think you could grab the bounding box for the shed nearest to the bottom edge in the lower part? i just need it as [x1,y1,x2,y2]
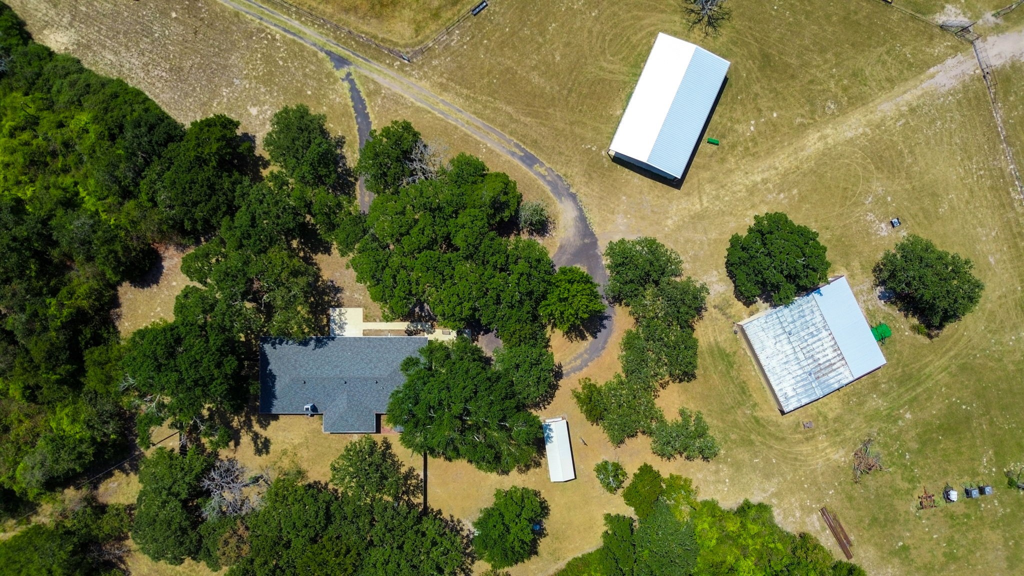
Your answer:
[542,417,575,482]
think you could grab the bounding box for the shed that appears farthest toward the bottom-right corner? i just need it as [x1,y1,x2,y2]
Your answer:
[736,275,886,412]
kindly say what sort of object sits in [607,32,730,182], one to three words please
barn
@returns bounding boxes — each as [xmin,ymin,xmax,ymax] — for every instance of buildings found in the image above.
[736,275,886,412]
[259,336,436,433]
[542,417,575,482]
[607,32,730,182]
